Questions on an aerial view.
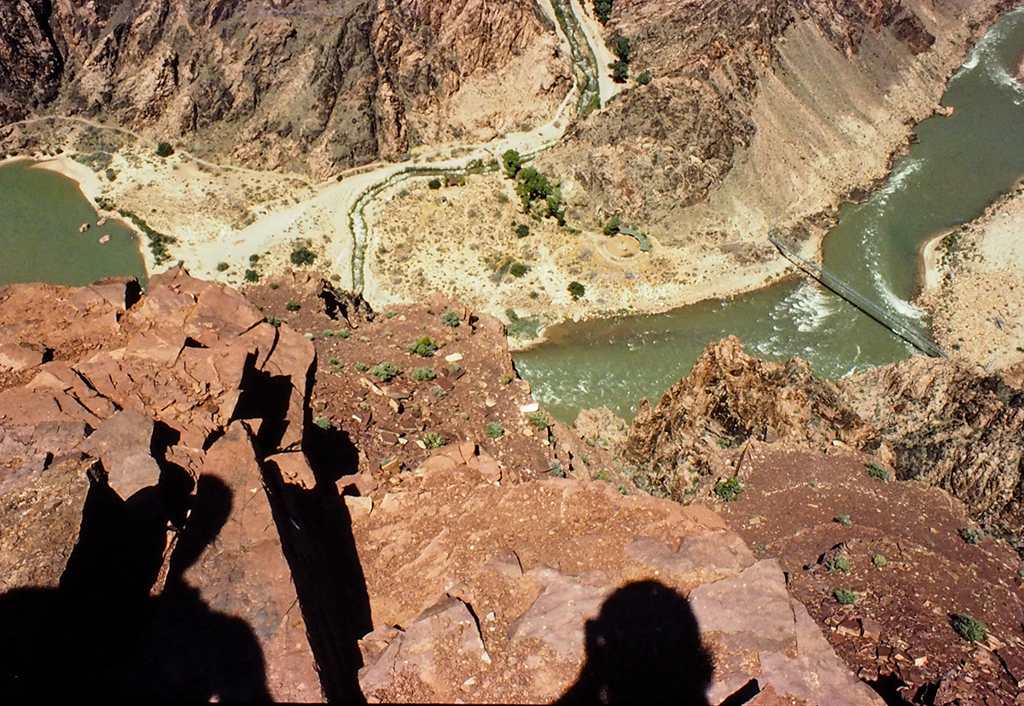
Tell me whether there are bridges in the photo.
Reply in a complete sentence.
Yes, the photo shows a bridge.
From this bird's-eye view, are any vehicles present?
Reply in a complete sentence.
No, the scene contains no vehicle.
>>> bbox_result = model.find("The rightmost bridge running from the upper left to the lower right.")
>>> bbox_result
[750,220,967,360]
